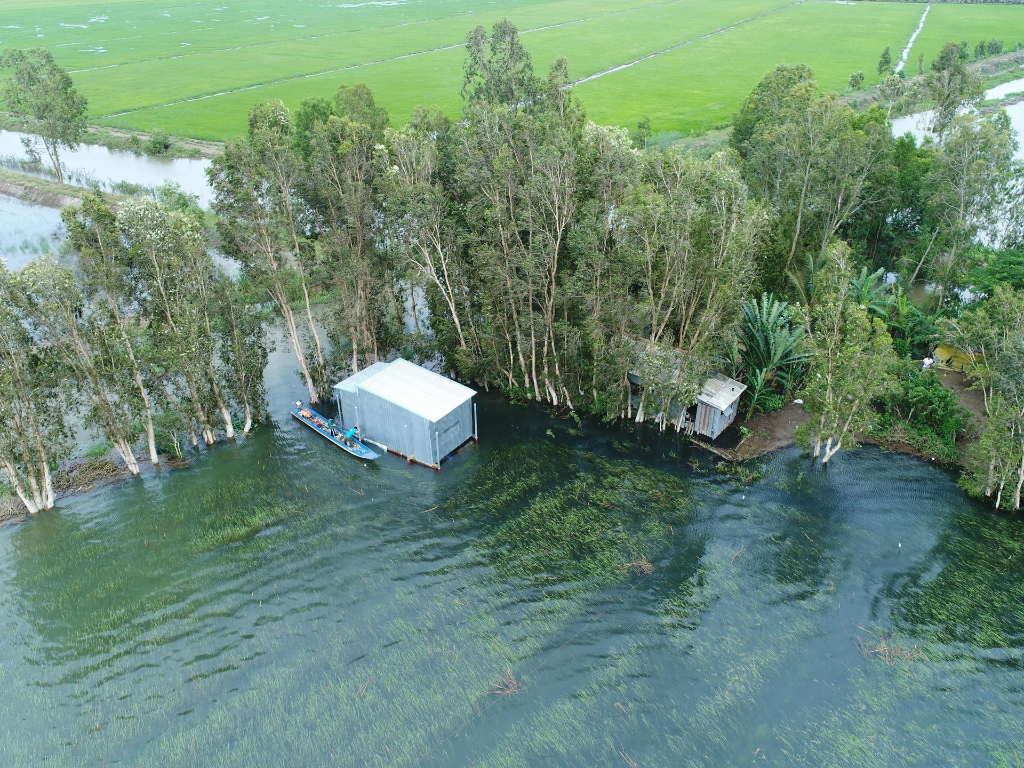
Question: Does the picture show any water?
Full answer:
Yes, some water is visible.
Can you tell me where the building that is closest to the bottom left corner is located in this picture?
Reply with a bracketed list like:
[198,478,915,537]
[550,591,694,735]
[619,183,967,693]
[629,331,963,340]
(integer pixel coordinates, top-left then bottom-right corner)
[332,360,472,469]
